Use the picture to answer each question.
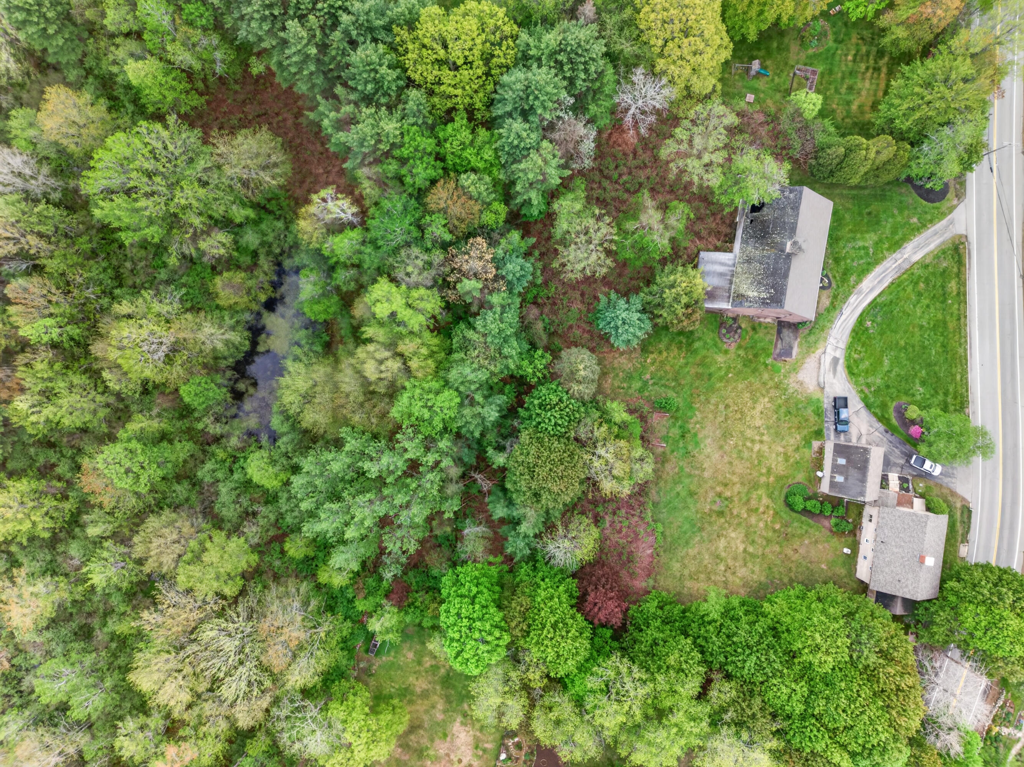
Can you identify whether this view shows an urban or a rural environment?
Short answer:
rural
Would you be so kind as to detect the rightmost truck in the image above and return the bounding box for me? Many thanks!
[908,453,944,476]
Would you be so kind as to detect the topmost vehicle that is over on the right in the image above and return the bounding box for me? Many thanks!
[834,396,853,433]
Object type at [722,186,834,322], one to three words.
barn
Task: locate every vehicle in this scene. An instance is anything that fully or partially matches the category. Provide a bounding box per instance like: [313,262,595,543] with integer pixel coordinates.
[908,453,944,476]
[834,396,853,433]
